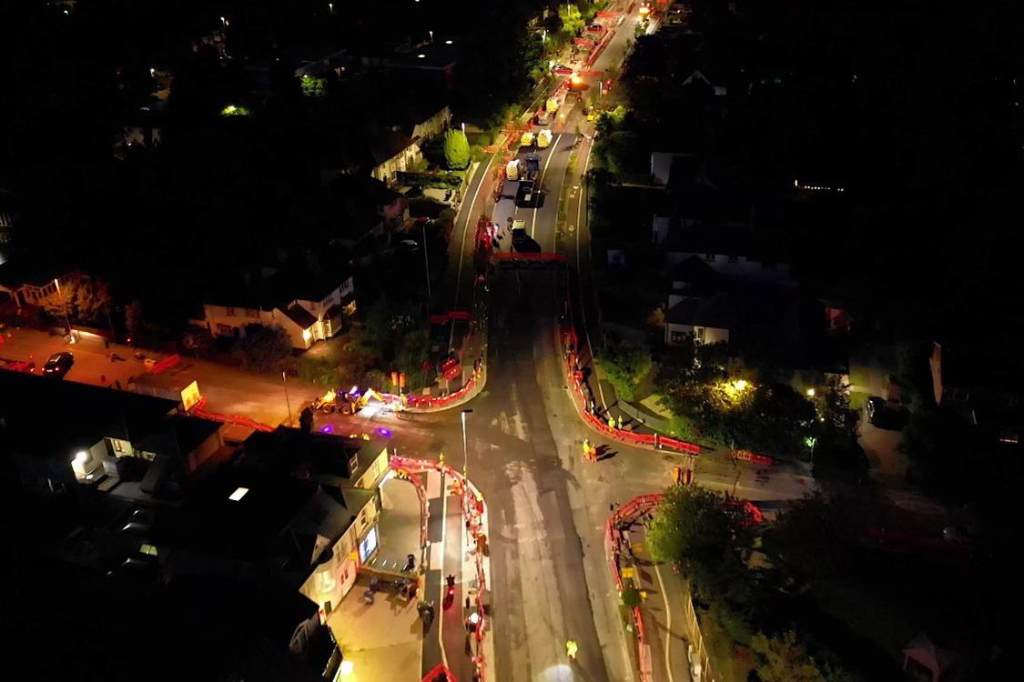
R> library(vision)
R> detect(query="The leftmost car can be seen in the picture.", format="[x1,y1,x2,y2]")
[41,347,79,371]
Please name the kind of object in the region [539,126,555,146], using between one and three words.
vehicle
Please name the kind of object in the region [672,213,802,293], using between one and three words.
house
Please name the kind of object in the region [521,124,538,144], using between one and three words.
vehicle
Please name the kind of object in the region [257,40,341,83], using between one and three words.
house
